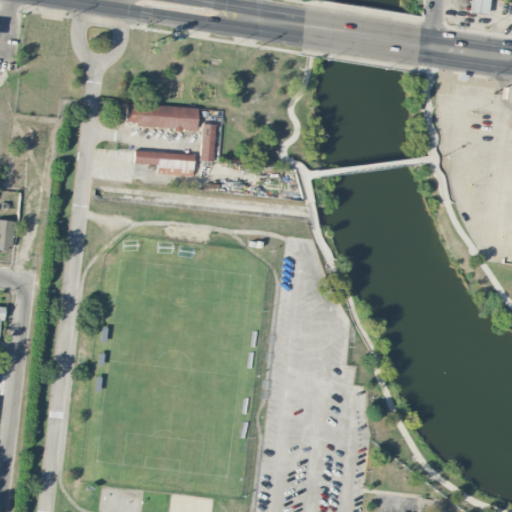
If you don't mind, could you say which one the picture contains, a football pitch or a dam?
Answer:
football pitch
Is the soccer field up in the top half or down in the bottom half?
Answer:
bottom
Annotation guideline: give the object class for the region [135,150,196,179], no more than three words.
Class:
barn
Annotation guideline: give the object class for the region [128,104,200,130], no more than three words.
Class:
barn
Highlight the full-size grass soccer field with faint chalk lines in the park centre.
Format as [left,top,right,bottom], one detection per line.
[97,260,251,477]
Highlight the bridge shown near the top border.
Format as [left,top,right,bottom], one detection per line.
[304,0,420,71]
